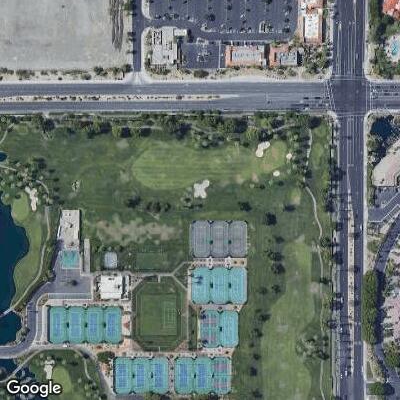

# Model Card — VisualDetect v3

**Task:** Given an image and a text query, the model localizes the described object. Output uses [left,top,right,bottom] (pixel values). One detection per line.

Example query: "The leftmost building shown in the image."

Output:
[57,211,79,247]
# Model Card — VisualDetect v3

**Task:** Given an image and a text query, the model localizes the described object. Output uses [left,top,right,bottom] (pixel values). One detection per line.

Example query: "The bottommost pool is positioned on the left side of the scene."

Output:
[60,251,80,270]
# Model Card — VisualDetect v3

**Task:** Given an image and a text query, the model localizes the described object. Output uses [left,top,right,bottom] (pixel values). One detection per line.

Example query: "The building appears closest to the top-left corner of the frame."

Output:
[151,28,177,63]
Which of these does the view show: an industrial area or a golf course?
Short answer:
golf course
